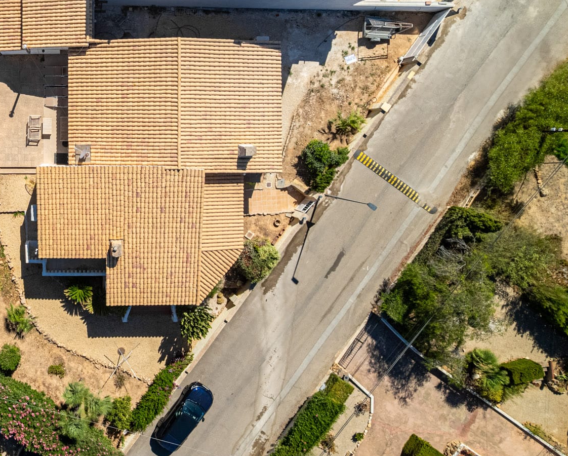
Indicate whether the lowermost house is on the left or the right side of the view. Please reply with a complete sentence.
The lowermost house sits on the left side.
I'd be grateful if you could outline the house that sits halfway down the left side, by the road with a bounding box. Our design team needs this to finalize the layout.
[24,37,285,324]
